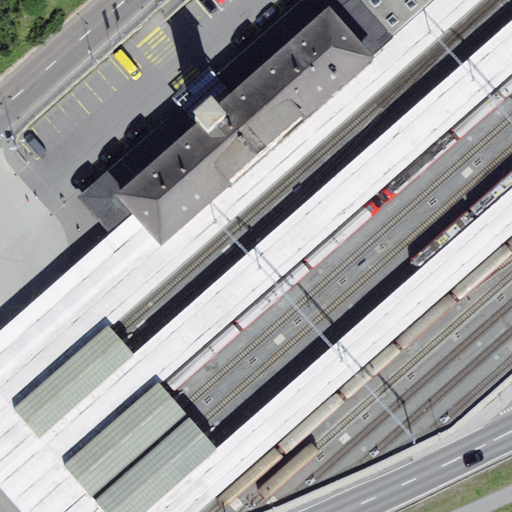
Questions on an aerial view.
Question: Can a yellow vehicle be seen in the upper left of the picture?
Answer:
Yes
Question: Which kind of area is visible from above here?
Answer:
rail yard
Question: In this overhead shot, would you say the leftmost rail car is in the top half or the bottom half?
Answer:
bottom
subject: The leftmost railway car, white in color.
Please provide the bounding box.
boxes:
[168,322,242,389]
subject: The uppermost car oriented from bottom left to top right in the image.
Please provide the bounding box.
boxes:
[256,5,279,27]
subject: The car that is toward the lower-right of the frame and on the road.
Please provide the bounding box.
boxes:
[463,452,484,467]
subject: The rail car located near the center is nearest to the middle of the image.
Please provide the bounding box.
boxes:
[236,260,312,329]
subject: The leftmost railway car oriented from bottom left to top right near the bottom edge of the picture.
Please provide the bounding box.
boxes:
[216,444,282,505]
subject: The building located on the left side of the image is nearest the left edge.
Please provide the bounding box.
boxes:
[78,174,134,232]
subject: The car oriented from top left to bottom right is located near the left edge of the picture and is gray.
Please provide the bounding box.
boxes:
[25,130,46,157]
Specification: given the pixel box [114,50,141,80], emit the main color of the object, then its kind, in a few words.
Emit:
yellow vehicle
